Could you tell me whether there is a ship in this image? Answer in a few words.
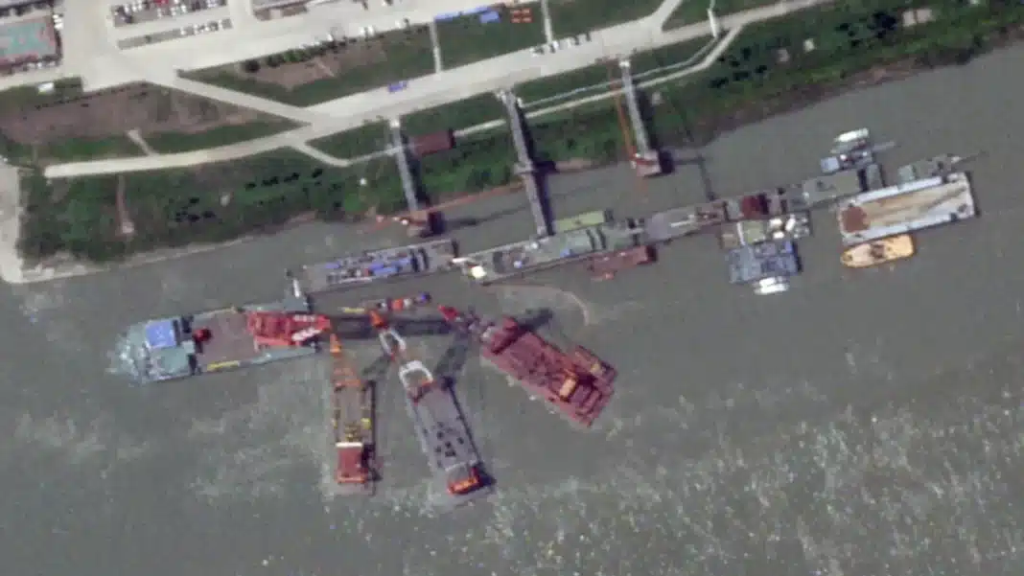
Yes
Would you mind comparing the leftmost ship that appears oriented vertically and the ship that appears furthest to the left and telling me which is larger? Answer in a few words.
the ship that appears furthest to the left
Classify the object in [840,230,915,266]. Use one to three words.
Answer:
boat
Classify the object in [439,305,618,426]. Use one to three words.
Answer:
ship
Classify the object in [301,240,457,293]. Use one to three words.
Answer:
pier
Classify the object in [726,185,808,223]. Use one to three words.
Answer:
pier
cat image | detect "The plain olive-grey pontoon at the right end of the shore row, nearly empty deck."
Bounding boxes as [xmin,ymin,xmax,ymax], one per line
[804,170,861,206]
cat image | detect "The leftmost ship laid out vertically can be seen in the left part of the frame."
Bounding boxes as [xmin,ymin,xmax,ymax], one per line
[331,336,373,490]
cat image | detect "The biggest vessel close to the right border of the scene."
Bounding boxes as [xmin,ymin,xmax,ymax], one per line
[838,172,975,245]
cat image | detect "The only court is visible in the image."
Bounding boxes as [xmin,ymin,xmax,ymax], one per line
[0,15,58,62]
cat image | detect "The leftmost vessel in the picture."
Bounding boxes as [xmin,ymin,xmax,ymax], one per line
[114,296,333,382]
